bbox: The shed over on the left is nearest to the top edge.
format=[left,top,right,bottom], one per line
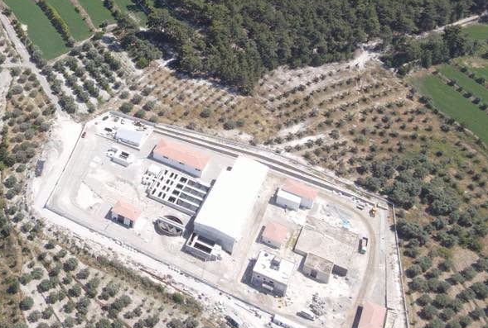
[115,130,143,151]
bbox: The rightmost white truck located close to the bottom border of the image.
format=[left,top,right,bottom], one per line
[289,299,325,326]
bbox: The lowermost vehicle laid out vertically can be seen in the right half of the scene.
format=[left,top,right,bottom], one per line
[358,229,370,252]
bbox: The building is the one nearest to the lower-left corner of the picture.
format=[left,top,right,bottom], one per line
[112,200,141,227]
